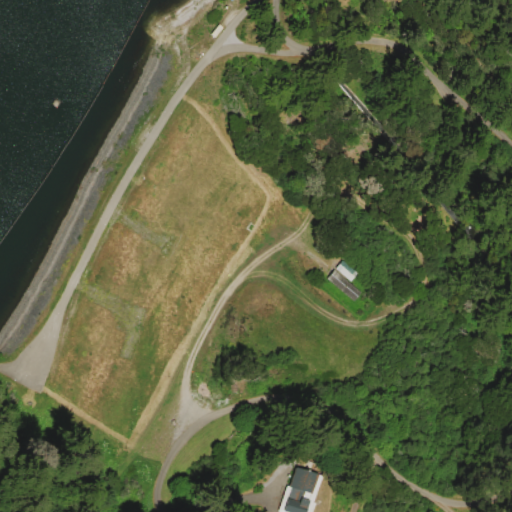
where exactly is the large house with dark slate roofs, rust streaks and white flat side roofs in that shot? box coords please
[279,466,324,512]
